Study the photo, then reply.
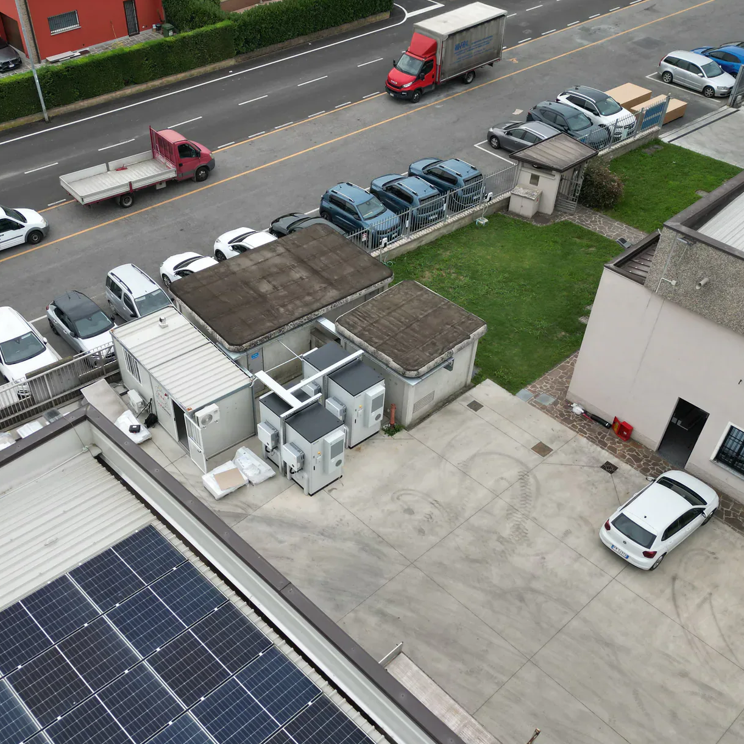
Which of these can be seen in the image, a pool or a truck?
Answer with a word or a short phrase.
truck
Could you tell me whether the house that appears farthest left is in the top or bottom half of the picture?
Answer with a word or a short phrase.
top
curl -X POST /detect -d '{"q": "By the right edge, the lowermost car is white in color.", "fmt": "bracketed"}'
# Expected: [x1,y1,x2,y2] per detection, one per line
[594,469,723,574]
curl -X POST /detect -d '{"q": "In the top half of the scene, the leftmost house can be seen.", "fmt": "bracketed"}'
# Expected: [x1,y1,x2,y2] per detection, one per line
[0,0,130,64]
